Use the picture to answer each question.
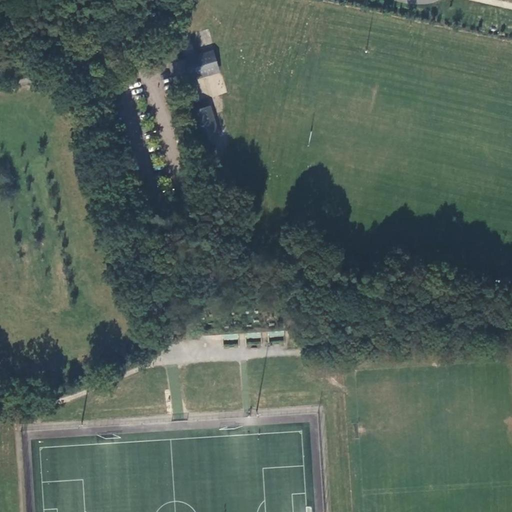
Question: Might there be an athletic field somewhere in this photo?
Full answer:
Yes, an athletic field is visible in the scene.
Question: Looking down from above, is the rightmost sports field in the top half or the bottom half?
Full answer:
You can find the rightmost sports field in the bottom half.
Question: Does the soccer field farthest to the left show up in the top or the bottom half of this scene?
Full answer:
The soccer field farthest to the left is in the bottom half of the image.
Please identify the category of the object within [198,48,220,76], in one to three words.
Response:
building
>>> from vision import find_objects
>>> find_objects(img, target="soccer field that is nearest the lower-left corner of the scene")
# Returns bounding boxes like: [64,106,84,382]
[31,423,316,512]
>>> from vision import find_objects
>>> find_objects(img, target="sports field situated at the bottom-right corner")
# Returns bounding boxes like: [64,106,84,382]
[357,362,512,512]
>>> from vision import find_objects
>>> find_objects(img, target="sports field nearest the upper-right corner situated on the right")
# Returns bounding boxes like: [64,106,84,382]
[196,0,512,287]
